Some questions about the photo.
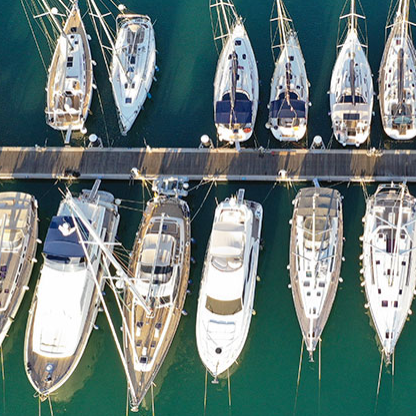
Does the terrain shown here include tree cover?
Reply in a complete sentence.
No, no tree cover is visible.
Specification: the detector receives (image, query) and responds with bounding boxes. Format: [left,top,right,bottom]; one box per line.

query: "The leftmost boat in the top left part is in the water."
[21,0,93,143]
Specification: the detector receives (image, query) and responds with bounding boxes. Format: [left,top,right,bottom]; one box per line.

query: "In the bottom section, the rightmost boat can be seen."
[362,182,416,366]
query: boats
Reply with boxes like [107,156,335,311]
[379,0,416,140]
[329,0,373,150]
[0,188,34,352]
[21,0,93,143]
[208,0,258,147]
[81,0,152,135]
[264,0,310,141]
[149,174,196,194]
[288,182,341,360]
[62,190,188,416]
[193,190,263,385]
[362,182,416,366]
[12,183,128,409]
